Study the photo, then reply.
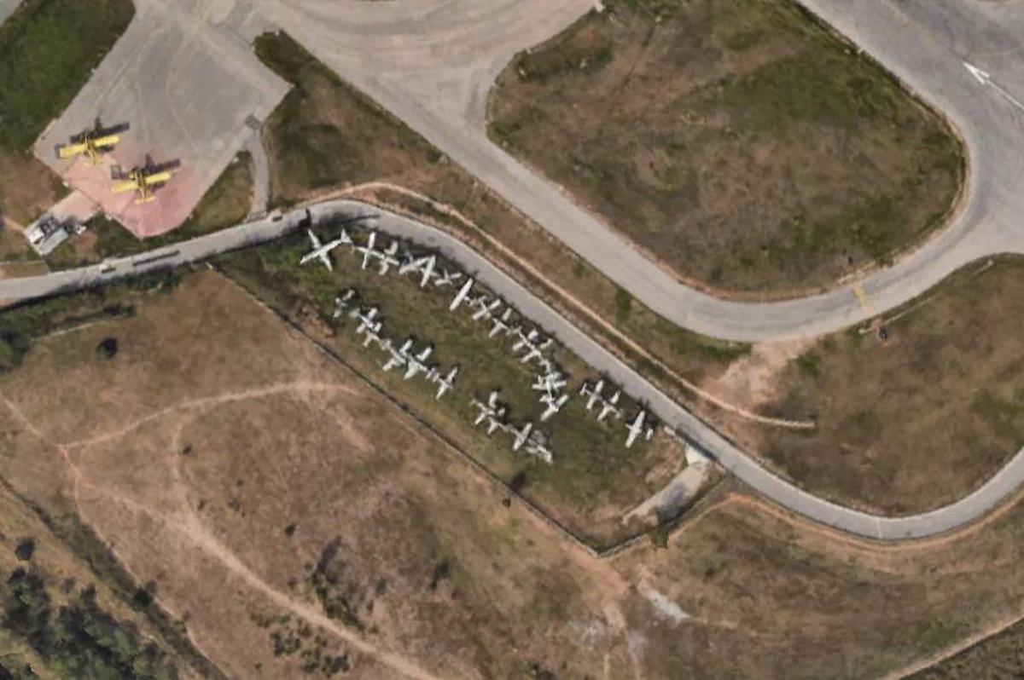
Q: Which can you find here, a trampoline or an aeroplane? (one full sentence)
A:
Of the two, only an aeroplane appears.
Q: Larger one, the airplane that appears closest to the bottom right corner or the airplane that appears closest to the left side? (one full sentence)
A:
The airplane that appears closest to the left side is bigger than the airplane that appears closest to the bottom right corner.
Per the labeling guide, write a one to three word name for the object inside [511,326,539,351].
airplane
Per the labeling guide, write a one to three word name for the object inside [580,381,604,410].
airplane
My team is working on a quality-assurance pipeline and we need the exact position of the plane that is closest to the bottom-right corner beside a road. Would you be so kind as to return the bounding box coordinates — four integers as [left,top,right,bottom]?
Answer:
[625,411,651,449]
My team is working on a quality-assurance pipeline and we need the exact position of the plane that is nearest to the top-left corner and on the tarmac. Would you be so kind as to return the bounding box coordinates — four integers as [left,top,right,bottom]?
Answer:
[55,125,118,168]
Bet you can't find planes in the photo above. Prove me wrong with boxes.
[380,241,403,274]
[300,227,354,270]
[351,306,377,333]
[471,296,500,318]
[507,423,533,451]
[55,125,118,168]
[487,409,510,436]
[333,290,355,318]
[521,339,553,366]
[488,308,512,339]
[539,394,569,422]
[108,162,170,205]
[511,326,539,351]
[526,433,555,461]
[433,367,457,399]
[404,347,433,381]
[625,411,651,449]
[580,381,604,410]
[449,277,476,311]
[597,392,623,420]
[435,267,461,287]
[382,338,411,370]
[418,254,441,287]
[532,372,567,395]
[354,234,382,269]
[398,251,428,273]
[472,391,498,425]
[363,322,385,347]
